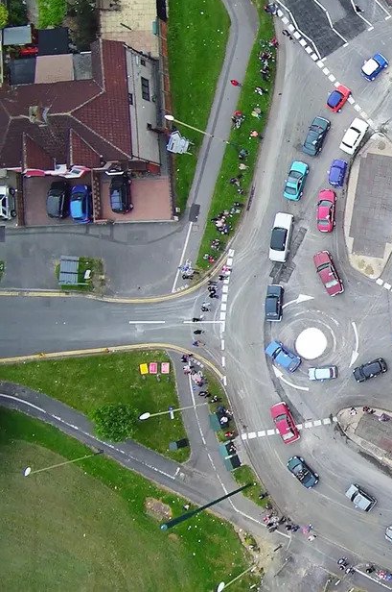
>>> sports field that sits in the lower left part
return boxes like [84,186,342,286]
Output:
[0,437,189,592]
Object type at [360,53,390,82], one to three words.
car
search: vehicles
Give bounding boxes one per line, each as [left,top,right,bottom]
[287,453,320,491]
[68,186,89,223]
[283,161,308,202]
[328,159,349,189]
[354,357,390,383]
[300,116,331,157]
[310,250,345,299]
[108,178,133,215]
[345,484,378,513]
[265,285,284,322]
[266,213,296,264]
[266,341,302,375]
[309,365,339,382]
[0,184,12,222]
[360,53,390,82]
[270,400,301,447]
[325,84,352,113]
[46,183,71,219]
[338,116,370,156]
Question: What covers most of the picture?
paved ground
